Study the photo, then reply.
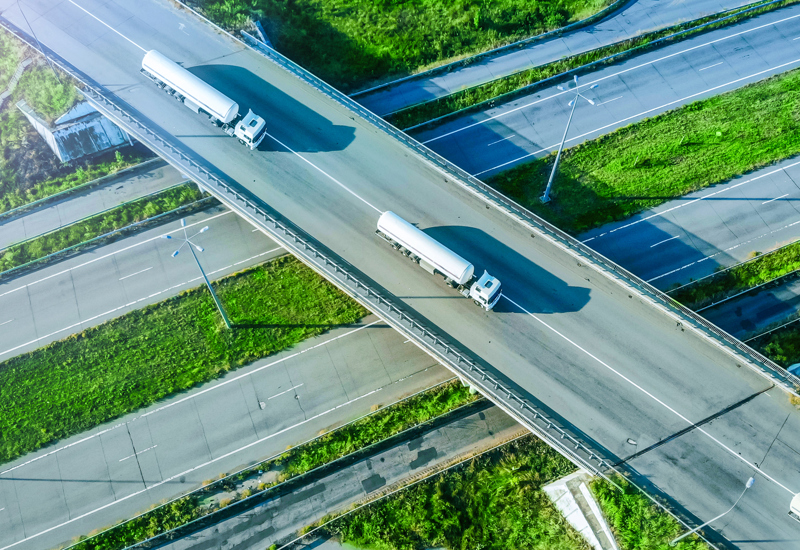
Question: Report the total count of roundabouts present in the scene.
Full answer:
Not a single roundabout can be seen.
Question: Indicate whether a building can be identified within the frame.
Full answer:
No, there appears to be no building in this shot.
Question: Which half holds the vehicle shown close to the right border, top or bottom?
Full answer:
The vehicle shown close to the right border sits in the bottom half of the picture.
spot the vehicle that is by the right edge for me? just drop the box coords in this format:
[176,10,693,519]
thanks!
[780,486,800,519]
